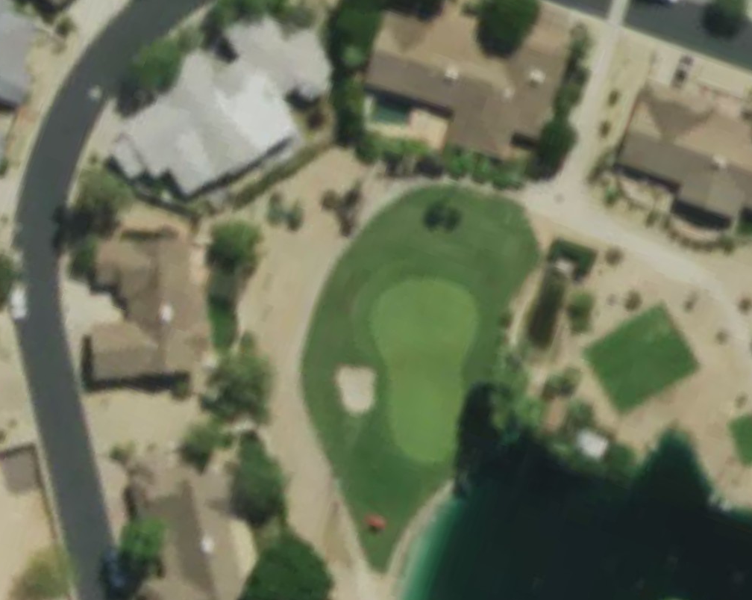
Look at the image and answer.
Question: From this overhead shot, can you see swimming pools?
Yes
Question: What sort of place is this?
residential area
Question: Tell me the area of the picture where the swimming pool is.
top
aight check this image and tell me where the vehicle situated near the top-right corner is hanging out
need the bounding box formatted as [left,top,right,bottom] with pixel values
[673,57,688,86]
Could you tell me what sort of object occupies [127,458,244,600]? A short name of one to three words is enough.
house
